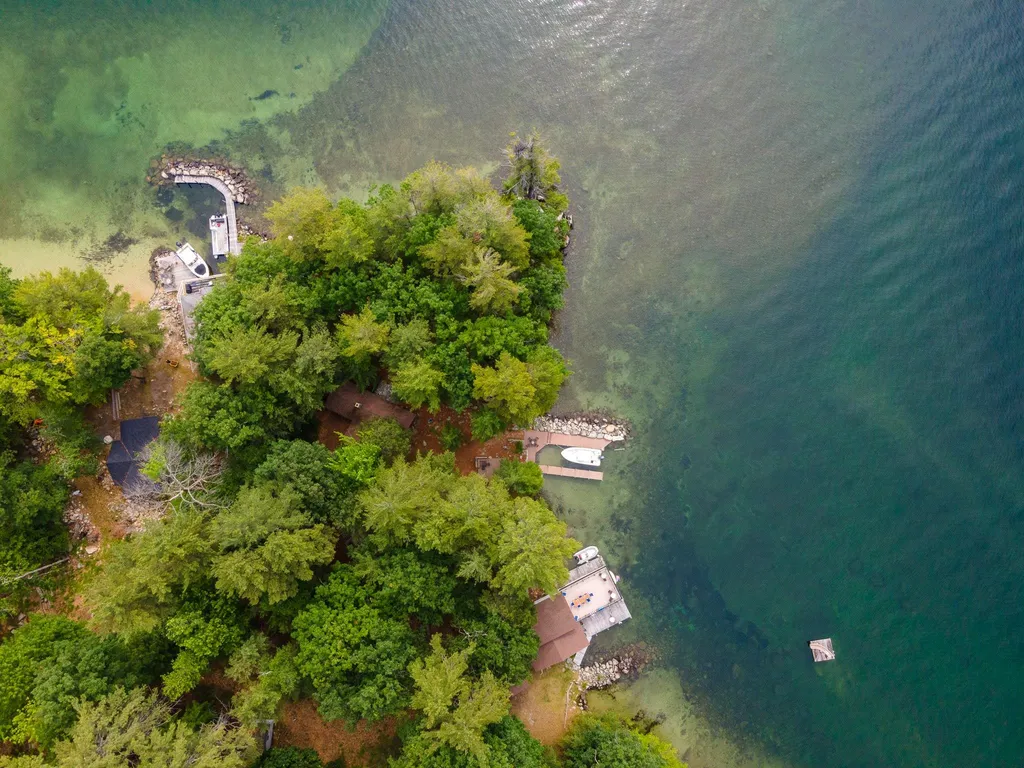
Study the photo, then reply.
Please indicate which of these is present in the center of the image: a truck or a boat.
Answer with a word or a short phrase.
boat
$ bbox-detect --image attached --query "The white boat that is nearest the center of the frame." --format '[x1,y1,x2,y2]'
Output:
[561,447,607,467]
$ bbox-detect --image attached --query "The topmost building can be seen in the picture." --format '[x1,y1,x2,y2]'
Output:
[326,381,415,448]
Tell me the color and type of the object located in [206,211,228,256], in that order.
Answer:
white boat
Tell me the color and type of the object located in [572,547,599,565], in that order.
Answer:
white boat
